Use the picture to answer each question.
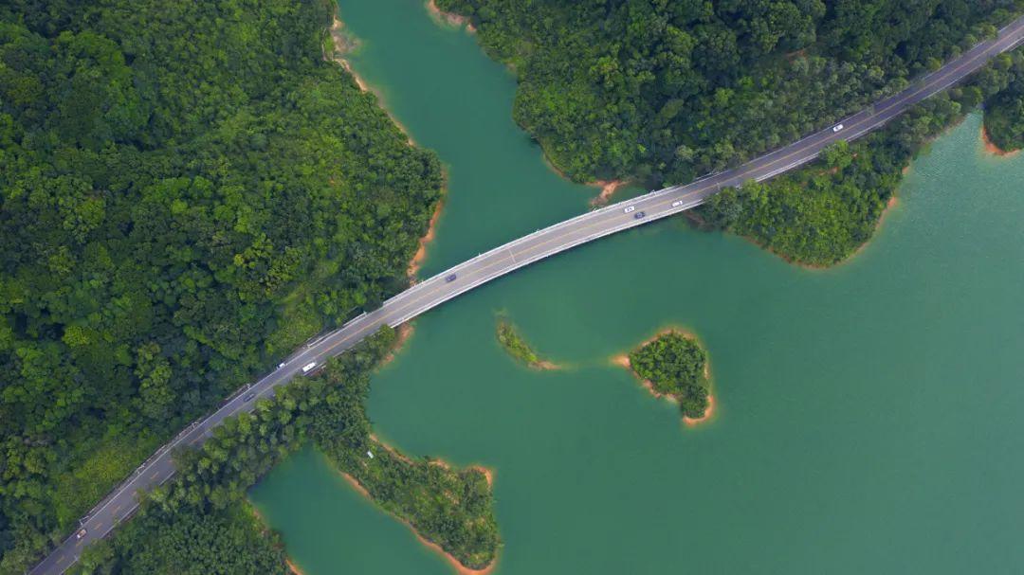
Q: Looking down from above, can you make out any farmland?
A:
No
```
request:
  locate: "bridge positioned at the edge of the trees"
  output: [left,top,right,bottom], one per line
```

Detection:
[377,177,706,331]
